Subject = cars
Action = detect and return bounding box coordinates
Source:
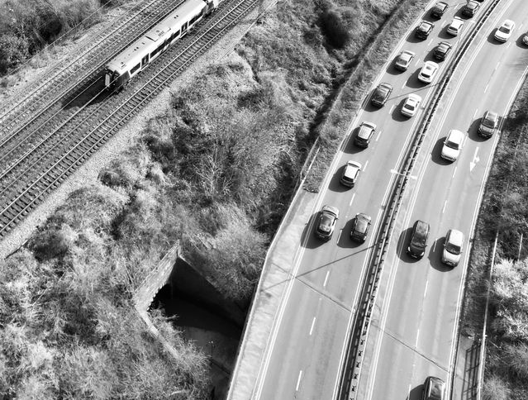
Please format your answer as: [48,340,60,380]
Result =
[440,128,465,162]
[413,20,436,42]
[432,42,453,62]
[444,16,466,37]
[477,109,499,139]
[439,227,466,269]
[393,50,417,75]
[352,122,376,151]
[417,61,440,84]
[338,160,362,189]
[493,20,515,42]
[313,206,340,243]
[460,0,482,18]
[399,92,422,119]
[429,1,449,20]
[405,218,431,260]
[420,374,445,400]
[368,81,394,107]
[347,213,373,247]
